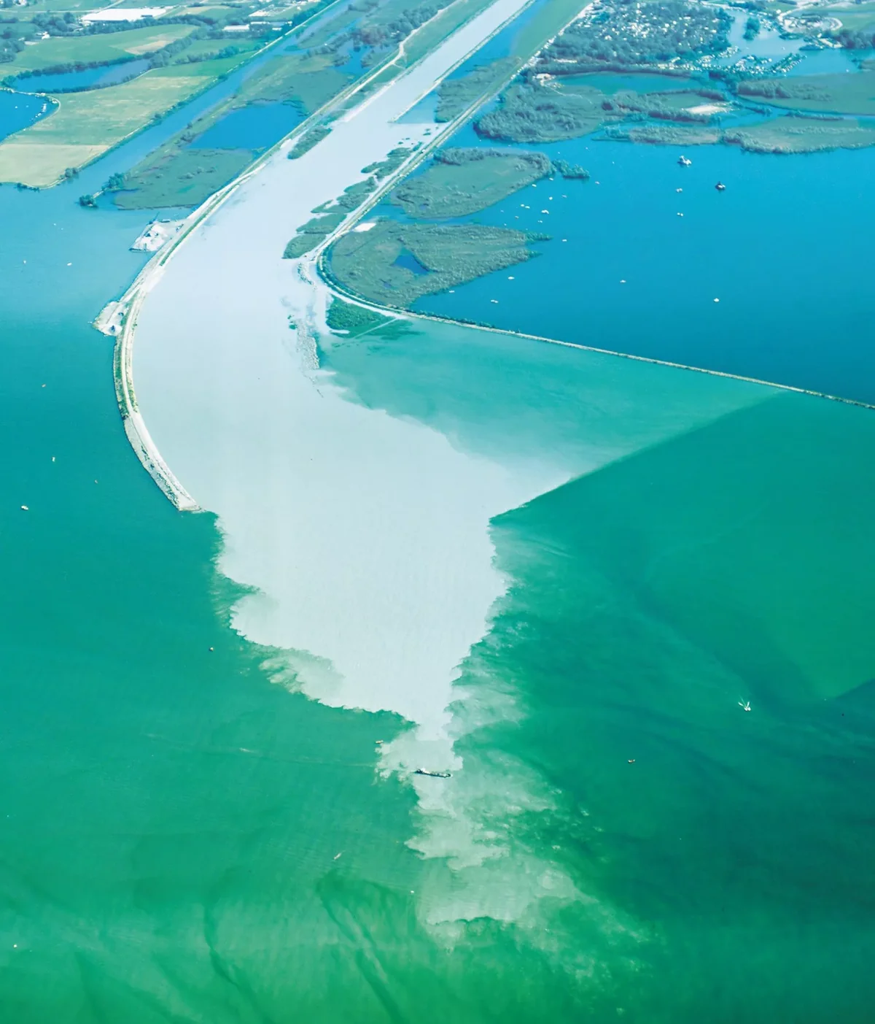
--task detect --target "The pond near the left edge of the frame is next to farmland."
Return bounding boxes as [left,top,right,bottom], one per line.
[14,58,151,92]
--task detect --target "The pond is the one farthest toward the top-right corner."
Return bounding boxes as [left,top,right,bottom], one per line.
[557,70,722,96]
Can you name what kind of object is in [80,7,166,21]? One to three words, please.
greenhouse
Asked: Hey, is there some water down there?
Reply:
Yes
